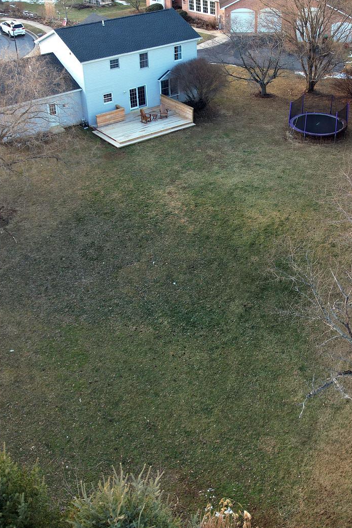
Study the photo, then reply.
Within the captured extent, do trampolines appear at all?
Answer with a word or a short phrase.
Yes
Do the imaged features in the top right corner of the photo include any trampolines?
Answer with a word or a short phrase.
Yes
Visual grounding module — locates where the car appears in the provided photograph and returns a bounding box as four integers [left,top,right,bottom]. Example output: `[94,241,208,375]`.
[0,20,29,39]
